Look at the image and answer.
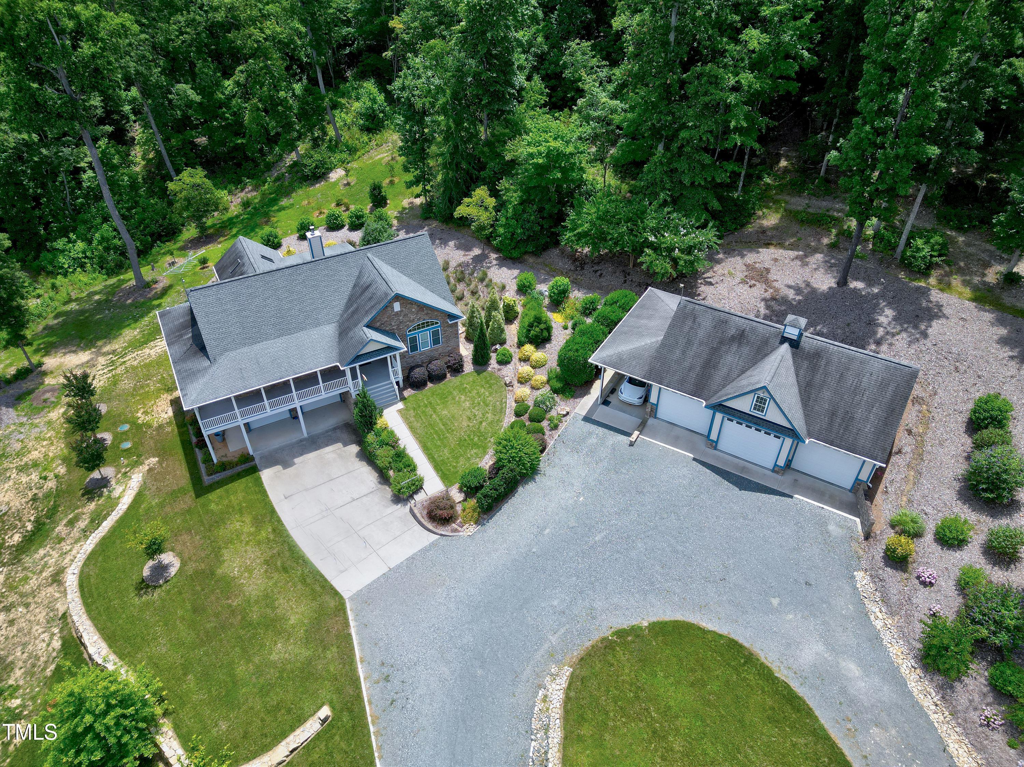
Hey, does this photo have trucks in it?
No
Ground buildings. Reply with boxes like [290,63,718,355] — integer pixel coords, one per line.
[155,222,468,461]
[585,288,923,494]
